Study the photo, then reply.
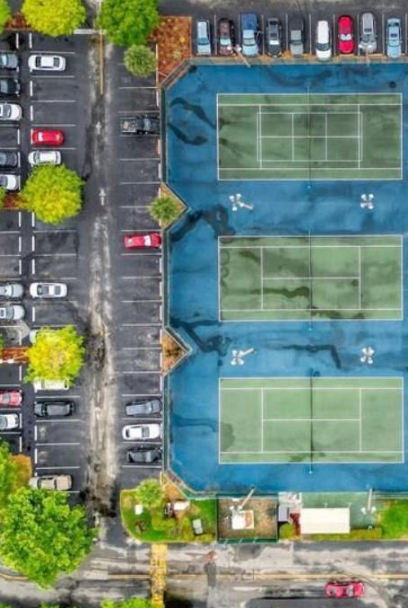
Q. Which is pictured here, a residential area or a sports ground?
sports ground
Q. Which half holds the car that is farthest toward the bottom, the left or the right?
right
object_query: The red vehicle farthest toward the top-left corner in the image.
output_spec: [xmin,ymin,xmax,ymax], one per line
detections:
[32,131,65,145]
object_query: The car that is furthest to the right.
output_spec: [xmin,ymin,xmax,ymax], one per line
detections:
[386,19,401,58]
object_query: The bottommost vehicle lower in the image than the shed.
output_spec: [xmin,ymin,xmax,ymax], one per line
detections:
[326,579,364,599]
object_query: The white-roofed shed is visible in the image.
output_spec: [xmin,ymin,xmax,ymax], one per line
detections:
[300,504,349,534]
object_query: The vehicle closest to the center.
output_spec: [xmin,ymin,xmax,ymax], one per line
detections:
[124,232,160,249]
